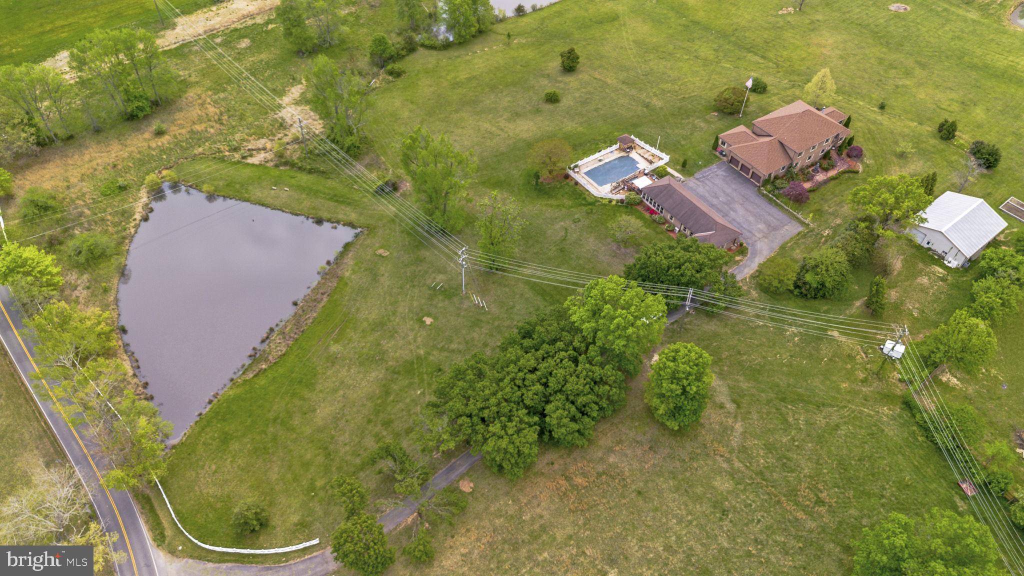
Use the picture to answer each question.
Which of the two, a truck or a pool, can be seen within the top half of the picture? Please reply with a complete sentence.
The one visible within the top half of the picture is a pool.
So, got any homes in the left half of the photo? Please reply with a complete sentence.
No, I see no home in the left half of the photo.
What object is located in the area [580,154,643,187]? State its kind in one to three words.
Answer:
swimming pool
